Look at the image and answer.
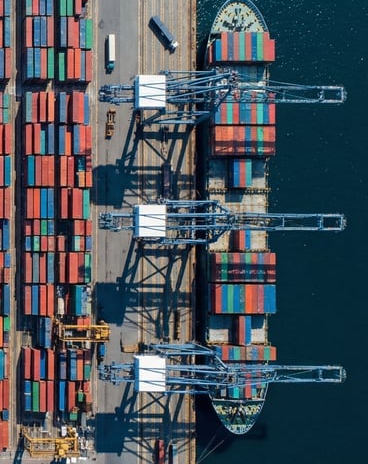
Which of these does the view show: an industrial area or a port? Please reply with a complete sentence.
This looks like a port.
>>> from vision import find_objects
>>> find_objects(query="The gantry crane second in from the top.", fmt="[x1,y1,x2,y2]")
[98,196,345,249]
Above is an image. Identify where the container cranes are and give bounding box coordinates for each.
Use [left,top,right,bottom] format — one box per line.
[52,318,111,343]
[23,425,80,455]
[98,73,345,133]
[98,333,345,395]
[98,196,345,249]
